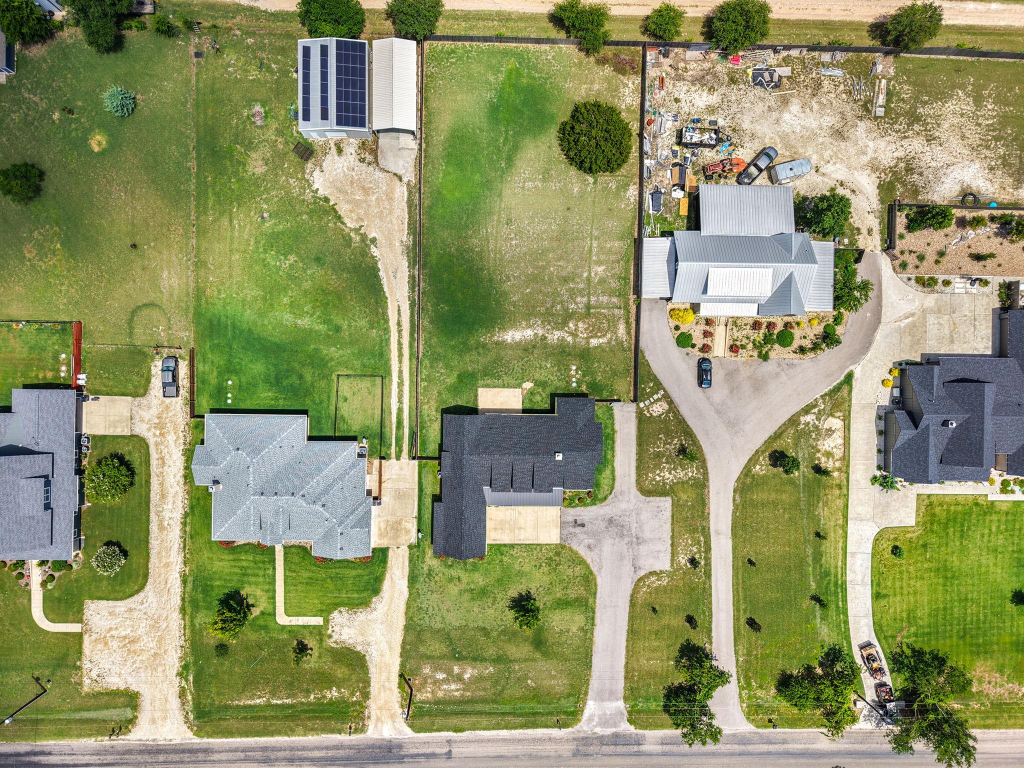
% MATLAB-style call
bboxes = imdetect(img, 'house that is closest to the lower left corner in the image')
[0,389,90,560]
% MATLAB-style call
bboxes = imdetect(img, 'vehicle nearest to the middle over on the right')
[698,358,715,390]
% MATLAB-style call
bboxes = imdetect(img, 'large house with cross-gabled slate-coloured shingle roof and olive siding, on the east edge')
[881,310,1024,484]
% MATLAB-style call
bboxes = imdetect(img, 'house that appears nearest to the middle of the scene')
[433,397,604,558]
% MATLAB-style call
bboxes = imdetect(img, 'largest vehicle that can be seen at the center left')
[161,357,178,399]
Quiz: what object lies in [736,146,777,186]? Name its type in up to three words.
truck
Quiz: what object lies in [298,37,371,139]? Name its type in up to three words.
barn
